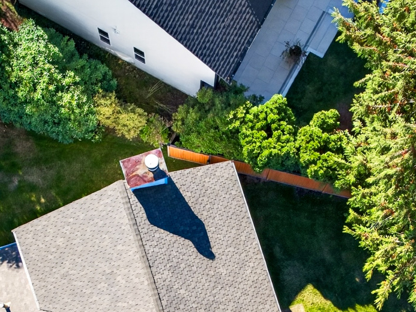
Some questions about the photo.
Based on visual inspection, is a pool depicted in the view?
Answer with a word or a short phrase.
No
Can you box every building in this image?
[16,0,273,108]
[0,146,286,312]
